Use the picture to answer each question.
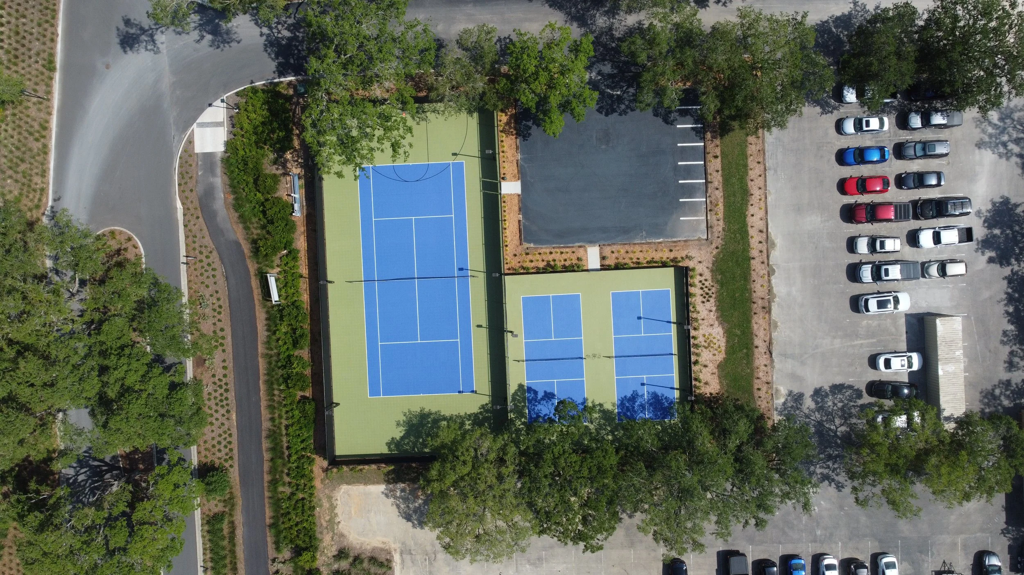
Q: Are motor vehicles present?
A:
Yes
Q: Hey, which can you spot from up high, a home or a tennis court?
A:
tennis court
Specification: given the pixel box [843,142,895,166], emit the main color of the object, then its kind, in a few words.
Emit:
blue car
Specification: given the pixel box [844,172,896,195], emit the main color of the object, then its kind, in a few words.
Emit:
red car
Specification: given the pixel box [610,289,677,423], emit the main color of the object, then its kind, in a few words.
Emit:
blue sports court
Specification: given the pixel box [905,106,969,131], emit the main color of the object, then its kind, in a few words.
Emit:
gray truck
